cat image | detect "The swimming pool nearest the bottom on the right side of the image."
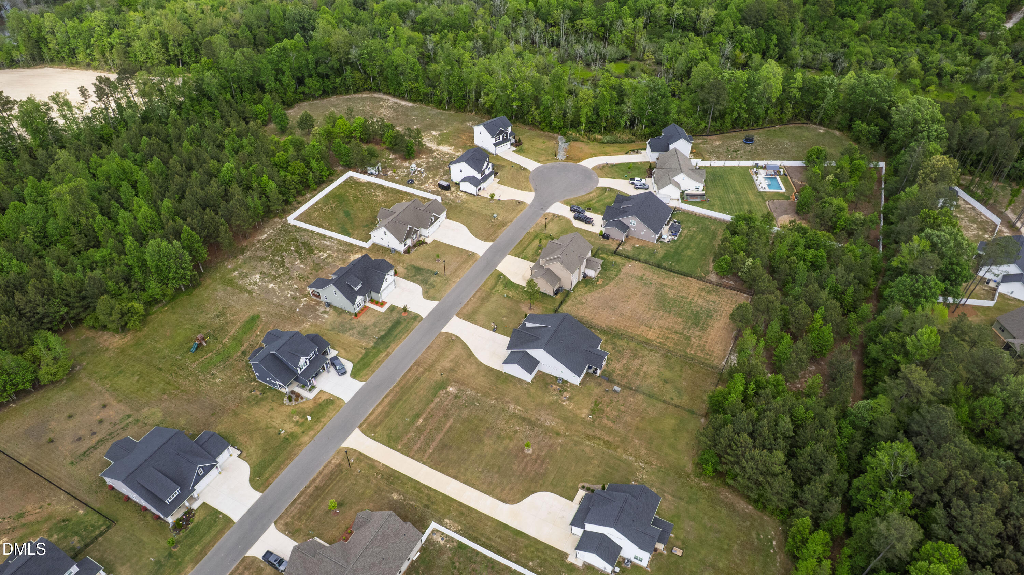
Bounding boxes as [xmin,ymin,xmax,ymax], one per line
[750,169,786,192]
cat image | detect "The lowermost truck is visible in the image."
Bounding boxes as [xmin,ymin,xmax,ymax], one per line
[259,547,288,573]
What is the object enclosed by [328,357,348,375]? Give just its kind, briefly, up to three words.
vehicle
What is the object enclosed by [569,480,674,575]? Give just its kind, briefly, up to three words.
house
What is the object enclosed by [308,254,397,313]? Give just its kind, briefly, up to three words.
house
